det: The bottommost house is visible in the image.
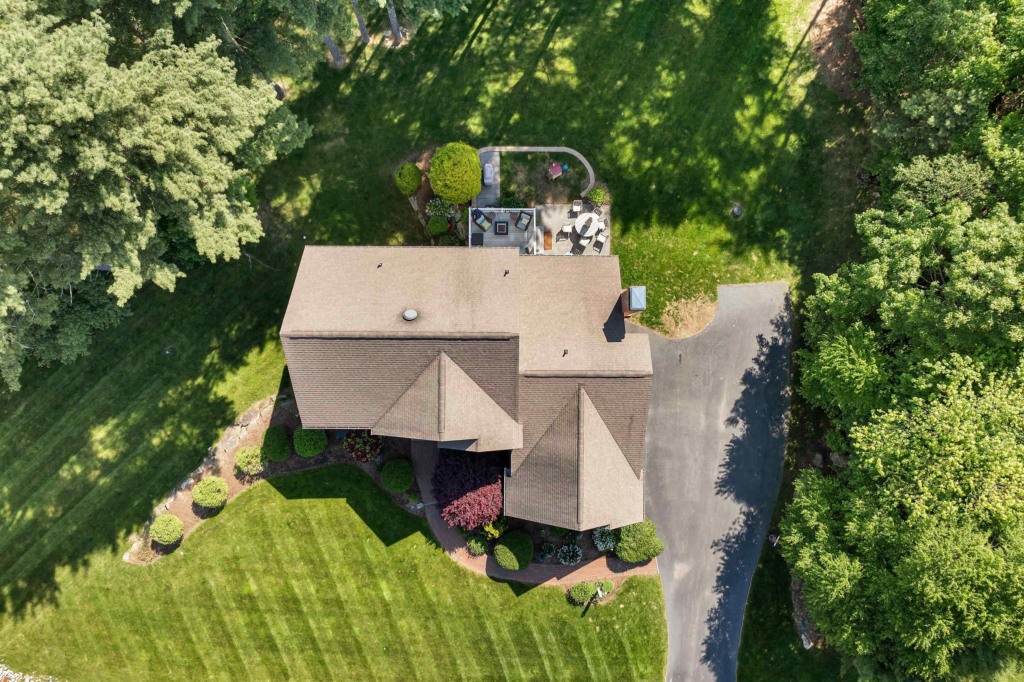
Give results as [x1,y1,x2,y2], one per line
[280,243,653,531]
